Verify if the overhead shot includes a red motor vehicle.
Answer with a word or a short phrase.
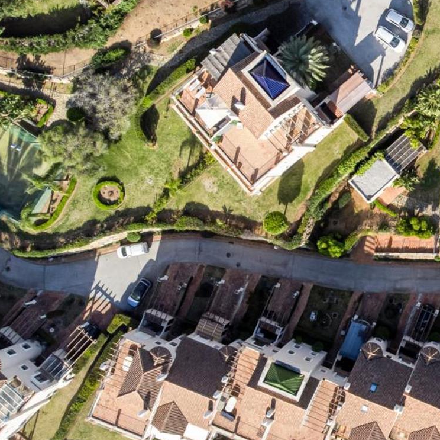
No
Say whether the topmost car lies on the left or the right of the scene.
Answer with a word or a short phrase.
right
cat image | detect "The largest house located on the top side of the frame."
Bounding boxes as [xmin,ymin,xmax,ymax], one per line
[168,34,374,195]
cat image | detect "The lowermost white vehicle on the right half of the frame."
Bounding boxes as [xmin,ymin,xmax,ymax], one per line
[370,23,409,55]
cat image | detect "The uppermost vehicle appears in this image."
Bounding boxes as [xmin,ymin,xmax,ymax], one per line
[380,7,419,35]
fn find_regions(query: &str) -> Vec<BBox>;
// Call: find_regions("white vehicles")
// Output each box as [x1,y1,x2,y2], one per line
[380,7,419,35]
[116,242,151,260]
[370,23,409,55]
